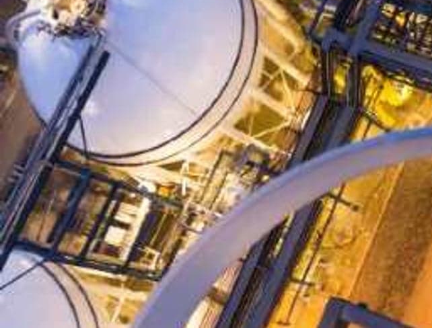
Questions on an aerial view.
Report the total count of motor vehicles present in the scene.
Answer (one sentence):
No motor vehicles are visible.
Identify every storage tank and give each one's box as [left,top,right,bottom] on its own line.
[0,239,157,328]
[14,0,311,187]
